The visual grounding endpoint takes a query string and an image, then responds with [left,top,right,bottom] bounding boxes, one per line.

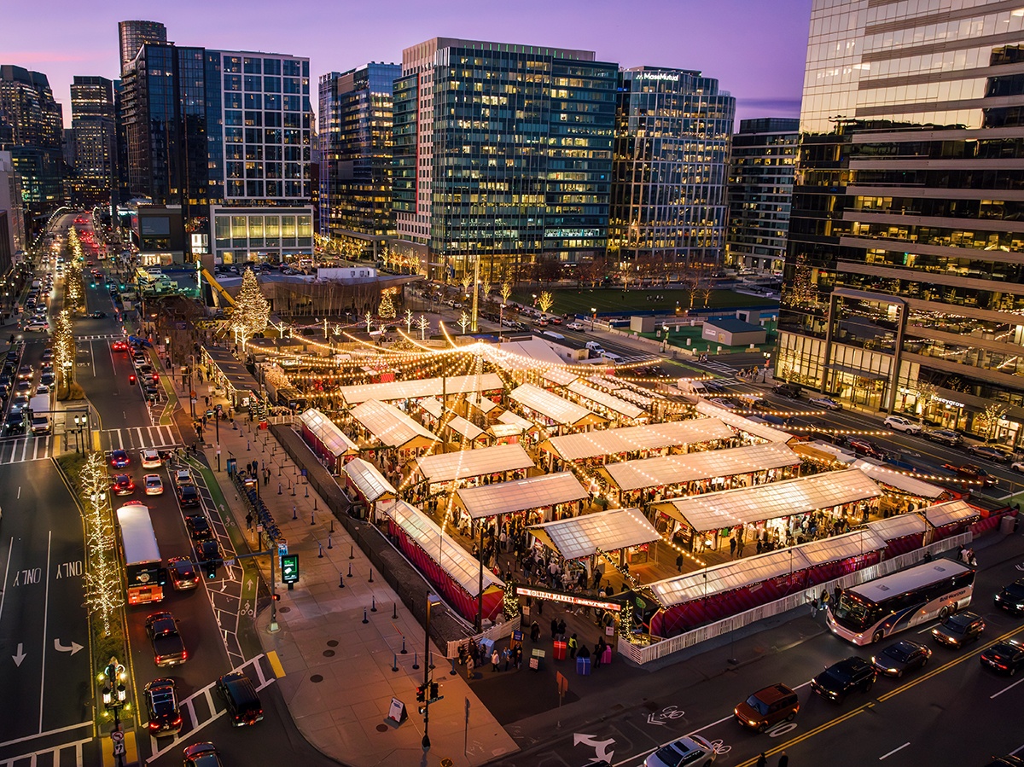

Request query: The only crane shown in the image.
[188,269,229,314]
